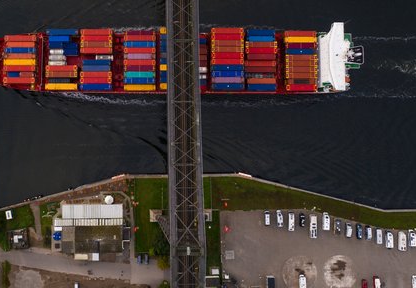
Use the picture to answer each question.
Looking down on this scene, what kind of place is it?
port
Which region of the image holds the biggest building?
bottom left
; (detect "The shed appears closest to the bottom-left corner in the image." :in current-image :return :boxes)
[7,228,29,248]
